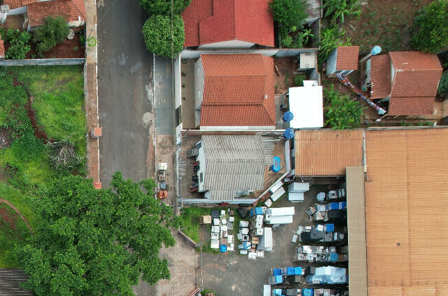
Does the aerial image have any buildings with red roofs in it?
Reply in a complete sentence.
Yes, a building with a red roof appears in the view.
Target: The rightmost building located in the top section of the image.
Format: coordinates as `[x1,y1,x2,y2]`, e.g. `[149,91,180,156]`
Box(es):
[361,52,444,120]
